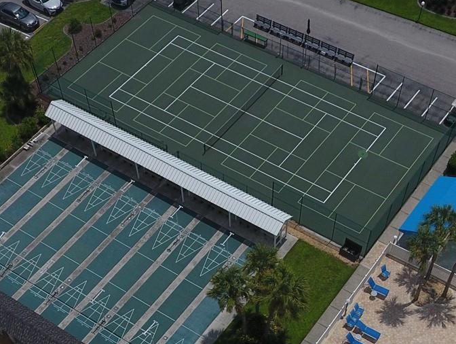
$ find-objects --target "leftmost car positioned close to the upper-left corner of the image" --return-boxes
[0,0,36,30]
